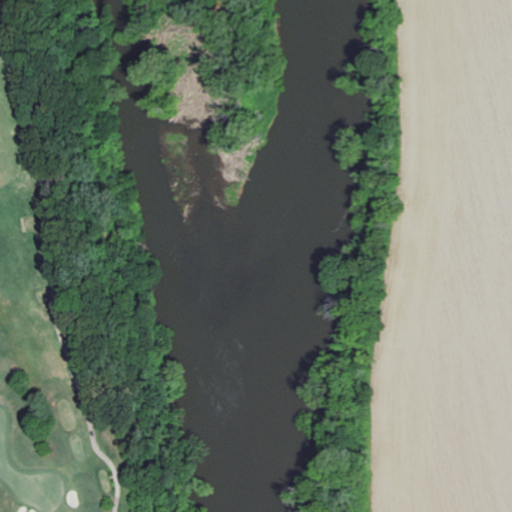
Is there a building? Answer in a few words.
No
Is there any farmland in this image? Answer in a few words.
Yes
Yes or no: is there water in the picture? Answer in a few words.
Yes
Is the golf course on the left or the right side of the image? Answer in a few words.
left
